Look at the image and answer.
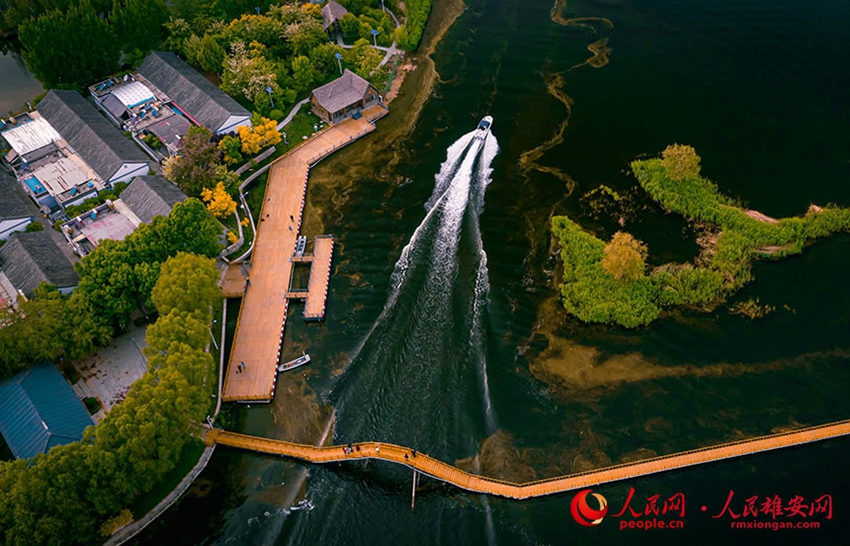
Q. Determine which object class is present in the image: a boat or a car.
boat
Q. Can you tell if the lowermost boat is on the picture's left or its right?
left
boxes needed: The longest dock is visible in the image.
[222,100,389,404]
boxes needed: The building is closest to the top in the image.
[318,0,352,37]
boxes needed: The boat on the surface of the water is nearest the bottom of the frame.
[279,350,312,372]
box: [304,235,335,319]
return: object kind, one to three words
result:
pier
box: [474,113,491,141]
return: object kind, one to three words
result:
boat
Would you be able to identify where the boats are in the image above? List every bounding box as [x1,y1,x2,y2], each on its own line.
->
[297,236,308,255]
[279,350,312,372]
[474,113,491,141]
